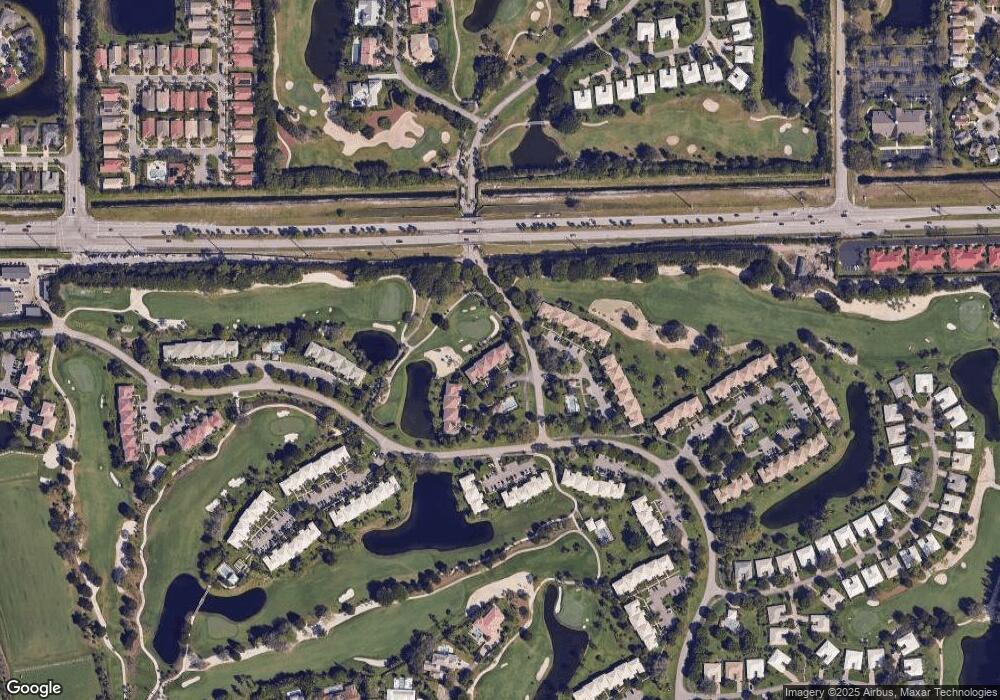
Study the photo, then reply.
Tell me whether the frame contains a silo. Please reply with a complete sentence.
No, the scene contains no silo.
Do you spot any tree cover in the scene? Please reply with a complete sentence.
Yes, there is tree cover in the image.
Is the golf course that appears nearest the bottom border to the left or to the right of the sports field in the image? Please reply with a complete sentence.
Relative to the sports field, the golf course that appears nearest the bottom border lies to the right.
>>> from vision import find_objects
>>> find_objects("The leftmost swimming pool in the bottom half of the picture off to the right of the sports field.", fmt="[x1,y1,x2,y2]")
[149,451,181,477]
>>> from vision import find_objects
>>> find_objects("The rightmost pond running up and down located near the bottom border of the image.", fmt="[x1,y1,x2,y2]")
[532,584,589,700]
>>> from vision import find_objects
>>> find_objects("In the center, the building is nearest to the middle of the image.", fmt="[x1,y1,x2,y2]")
[465,342,512,386]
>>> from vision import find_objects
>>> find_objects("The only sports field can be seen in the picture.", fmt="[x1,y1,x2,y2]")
[0,454,101,700]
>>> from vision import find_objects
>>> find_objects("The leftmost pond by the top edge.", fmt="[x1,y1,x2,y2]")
[108,0,176,34]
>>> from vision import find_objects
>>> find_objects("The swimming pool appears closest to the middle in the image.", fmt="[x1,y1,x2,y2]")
[494,395,518,417]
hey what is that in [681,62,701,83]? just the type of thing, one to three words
house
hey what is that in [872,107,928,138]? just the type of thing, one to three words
building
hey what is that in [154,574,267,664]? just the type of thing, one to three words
pond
